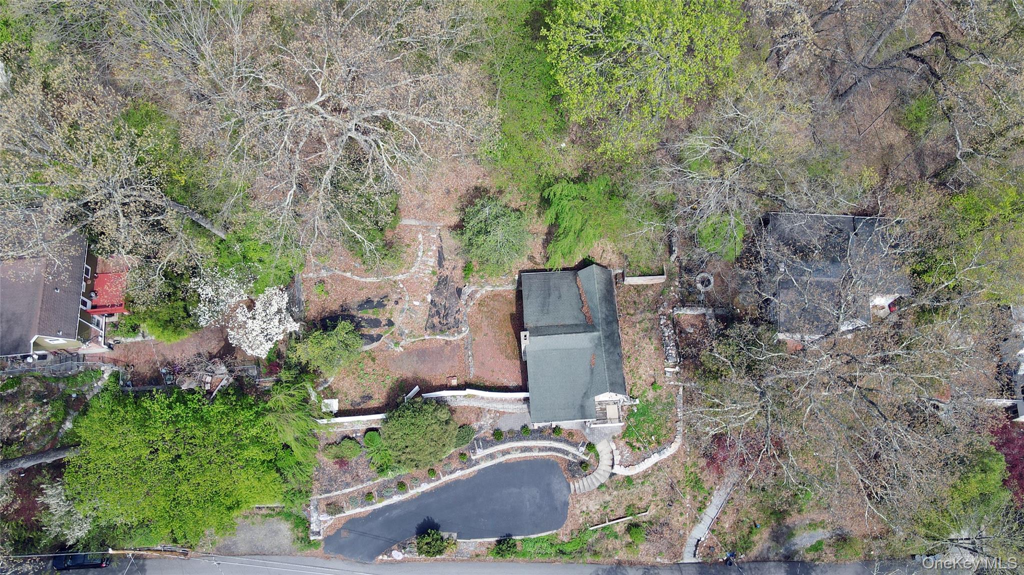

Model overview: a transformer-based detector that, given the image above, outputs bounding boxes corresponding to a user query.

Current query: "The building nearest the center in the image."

[520,264,628,435]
